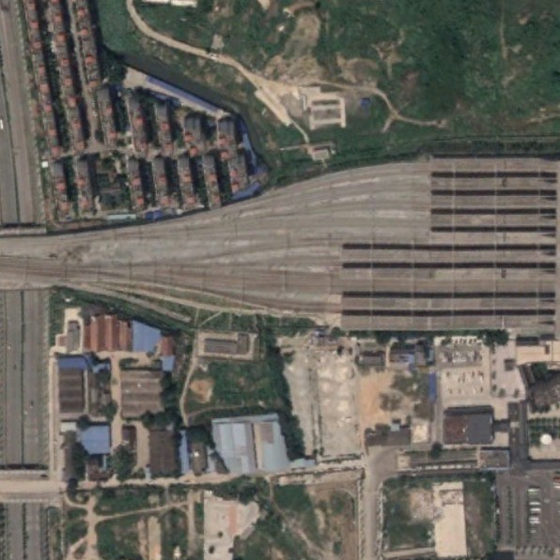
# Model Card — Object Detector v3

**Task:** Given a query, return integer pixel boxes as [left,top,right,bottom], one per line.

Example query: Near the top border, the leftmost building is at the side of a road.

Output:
[20,0,62,155]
